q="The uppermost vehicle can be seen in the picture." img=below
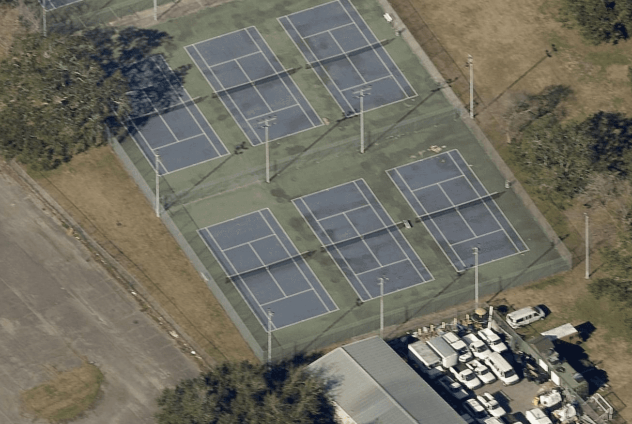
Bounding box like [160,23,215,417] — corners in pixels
[500,305,550,331]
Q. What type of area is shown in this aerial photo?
sports ground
